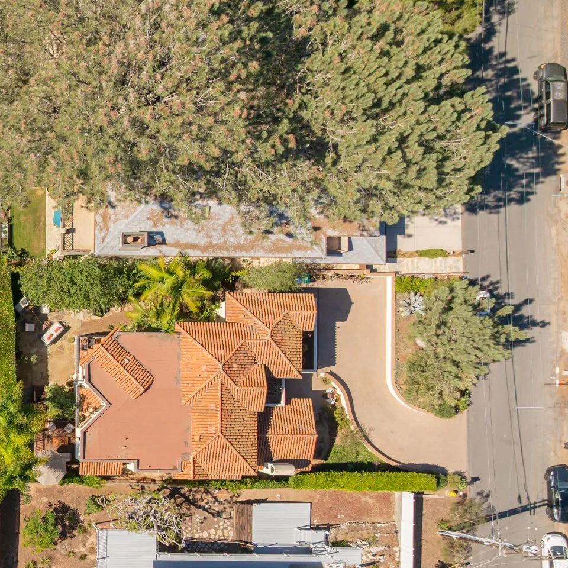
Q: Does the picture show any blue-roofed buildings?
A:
No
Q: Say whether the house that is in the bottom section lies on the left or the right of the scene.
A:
left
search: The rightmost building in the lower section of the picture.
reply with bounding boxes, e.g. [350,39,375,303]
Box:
[75,292,317,482]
